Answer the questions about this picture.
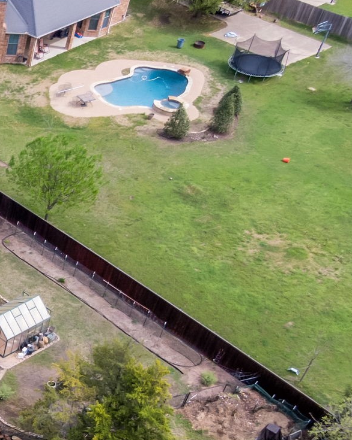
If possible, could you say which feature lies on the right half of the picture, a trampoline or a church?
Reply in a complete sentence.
What appears on the right half of the picture is a trampoline.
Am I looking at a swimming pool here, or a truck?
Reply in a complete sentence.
Of the two, only a swimming pool appears.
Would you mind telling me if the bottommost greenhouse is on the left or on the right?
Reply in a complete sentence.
The bottommost greenhouse appears in the left half of the scene.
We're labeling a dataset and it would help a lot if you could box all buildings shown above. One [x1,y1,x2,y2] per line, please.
[0,0,127,67]
[0,290,59,357]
